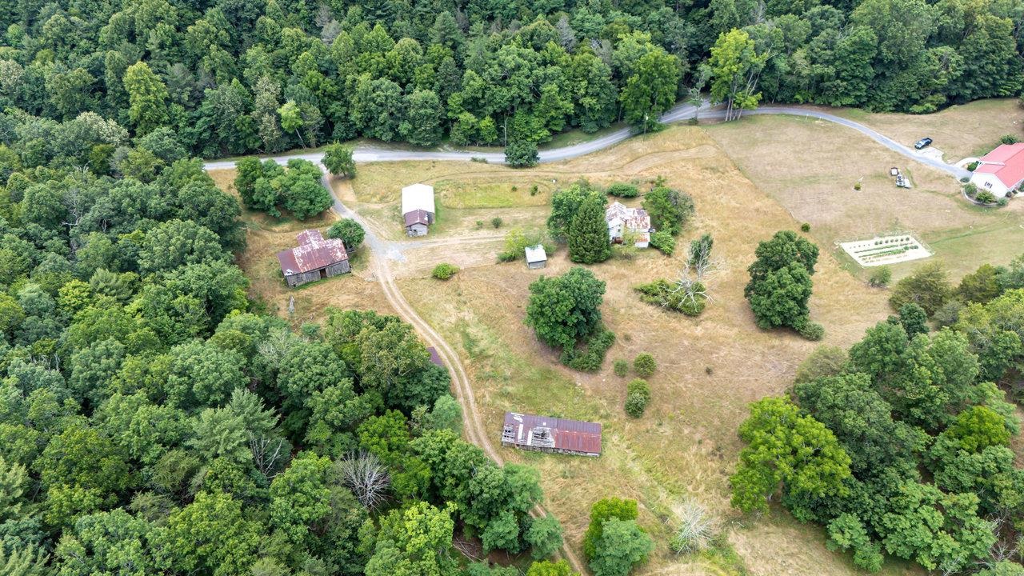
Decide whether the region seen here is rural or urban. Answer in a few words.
rural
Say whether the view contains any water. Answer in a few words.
No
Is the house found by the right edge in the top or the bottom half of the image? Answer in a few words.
top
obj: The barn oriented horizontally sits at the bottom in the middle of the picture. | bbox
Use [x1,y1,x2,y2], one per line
[502,411,604,461]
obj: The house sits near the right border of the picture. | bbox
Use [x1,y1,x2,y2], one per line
[969,148,1024,196]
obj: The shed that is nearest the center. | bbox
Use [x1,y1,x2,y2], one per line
[523,244,547,269]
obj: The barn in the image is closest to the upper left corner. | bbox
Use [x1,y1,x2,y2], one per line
[278,235,359,286]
